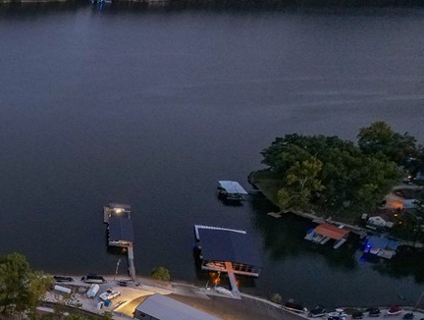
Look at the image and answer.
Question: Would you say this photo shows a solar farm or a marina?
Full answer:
What you see here is a marina.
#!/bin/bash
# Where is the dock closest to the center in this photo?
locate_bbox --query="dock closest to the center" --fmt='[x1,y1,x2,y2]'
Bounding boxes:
[216,181,247,202]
